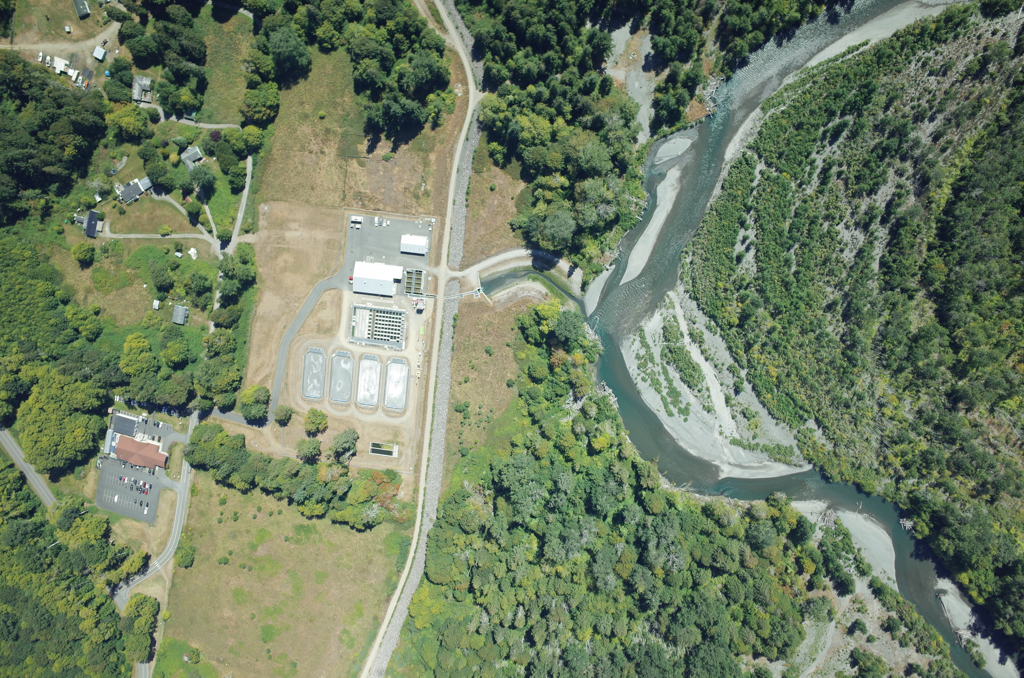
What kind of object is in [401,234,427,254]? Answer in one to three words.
shed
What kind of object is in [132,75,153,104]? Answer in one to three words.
house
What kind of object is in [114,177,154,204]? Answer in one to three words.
house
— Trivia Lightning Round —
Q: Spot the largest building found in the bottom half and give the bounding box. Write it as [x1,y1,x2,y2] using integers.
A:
[109,413,170,467]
